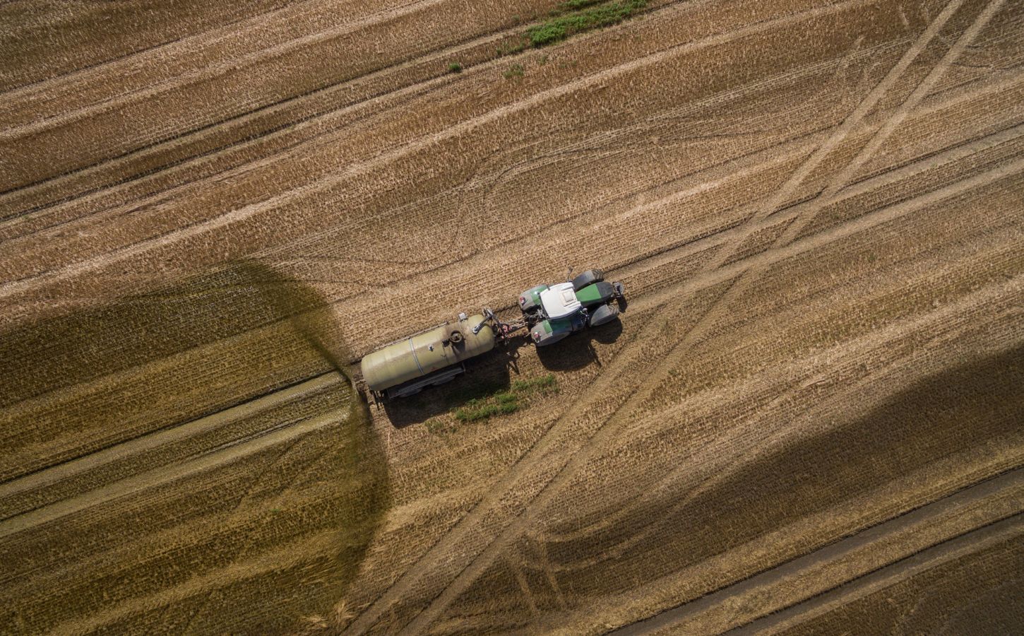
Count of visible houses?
none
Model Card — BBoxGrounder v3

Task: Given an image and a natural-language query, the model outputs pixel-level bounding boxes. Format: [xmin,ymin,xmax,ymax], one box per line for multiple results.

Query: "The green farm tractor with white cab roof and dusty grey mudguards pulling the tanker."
[516,268,622,348]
